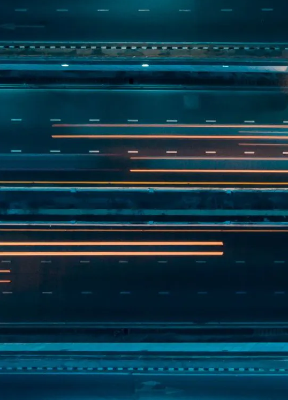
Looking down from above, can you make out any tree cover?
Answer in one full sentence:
No, the scene doesn't show any tree cover.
